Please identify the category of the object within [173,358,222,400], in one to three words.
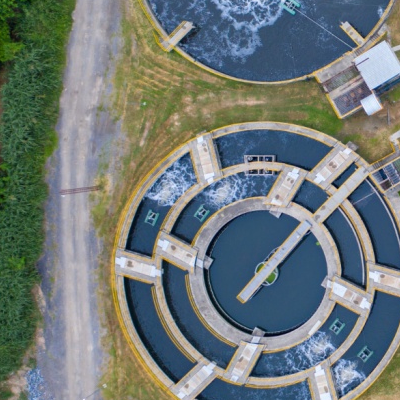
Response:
bridge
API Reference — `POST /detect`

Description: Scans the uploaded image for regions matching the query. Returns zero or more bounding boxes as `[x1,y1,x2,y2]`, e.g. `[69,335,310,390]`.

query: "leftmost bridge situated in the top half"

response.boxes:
[188,131,224,182]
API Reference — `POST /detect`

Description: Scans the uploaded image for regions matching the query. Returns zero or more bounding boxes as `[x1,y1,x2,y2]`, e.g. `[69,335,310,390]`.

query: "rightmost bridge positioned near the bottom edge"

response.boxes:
[305,364,339,400]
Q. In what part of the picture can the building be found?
top right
